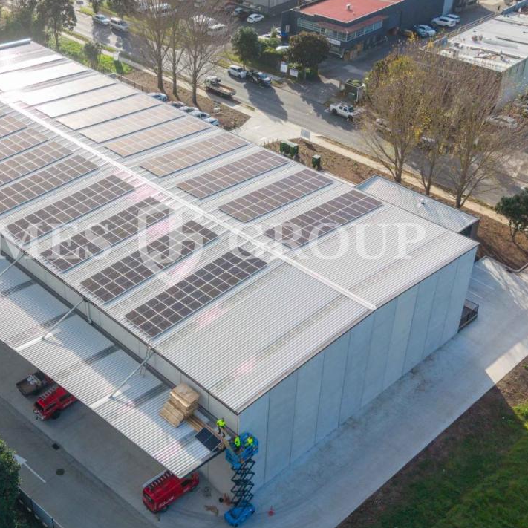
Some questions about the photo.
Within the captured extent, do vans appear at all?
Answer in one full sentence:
Yes, a van can be made out from above.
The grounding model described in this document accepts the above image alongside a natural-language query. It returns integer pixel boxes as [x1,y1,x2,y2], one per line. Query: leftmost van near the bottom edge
[143,471,204,516]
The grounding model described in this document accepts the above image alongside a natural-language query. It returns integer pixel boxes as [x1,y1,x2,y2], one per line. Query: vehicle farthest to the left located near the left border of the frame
[14,366,58,398]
